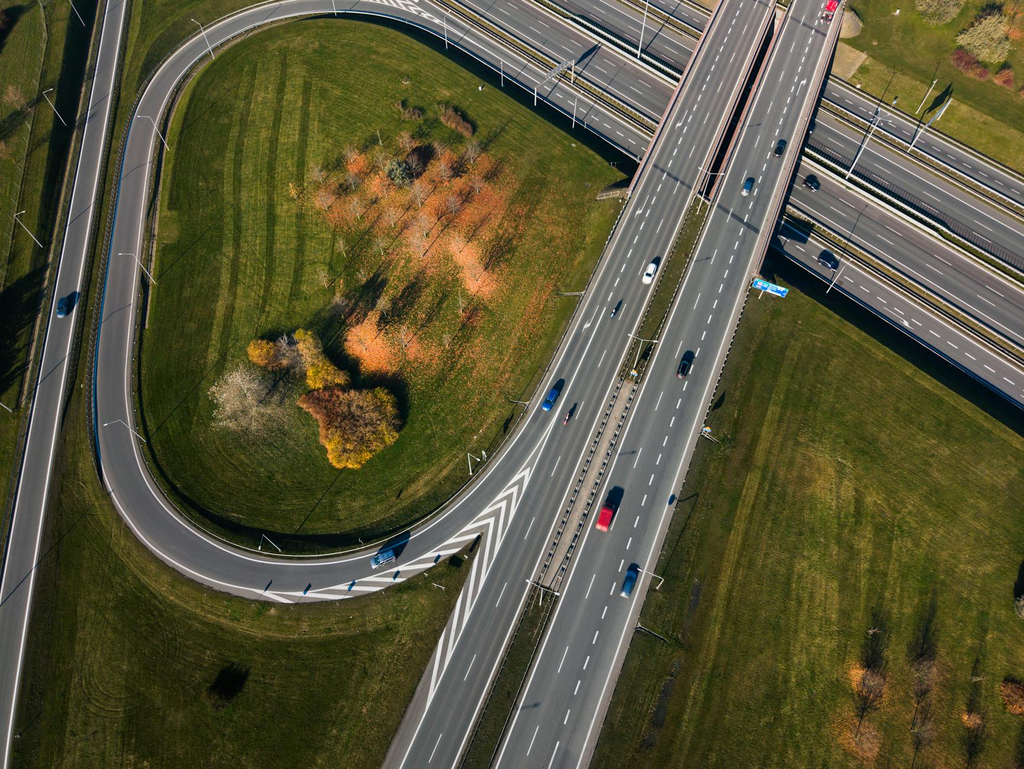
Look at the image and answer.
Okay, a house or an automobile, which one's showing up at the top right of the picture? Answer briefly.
automobile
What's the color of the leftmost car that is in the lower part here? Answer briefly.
blue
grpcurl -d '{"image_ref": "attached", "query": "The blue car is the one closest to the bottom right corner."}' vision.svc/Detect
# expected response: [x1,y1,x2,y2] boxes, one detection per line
[620,566,639,596]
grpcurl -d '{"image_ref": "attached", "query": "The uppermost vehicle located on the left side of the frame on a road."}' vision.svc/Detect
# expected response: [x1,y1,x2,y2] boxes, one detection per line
[55,298,68,316]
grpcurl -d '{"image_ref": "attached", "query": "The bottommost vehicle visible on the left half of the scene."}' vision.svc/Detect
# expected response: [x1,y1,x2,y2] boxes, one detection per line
[369,548,399,569]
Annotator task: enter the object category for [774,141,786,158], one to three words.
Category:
vehicle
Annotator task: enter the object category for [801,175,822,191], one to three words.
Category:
car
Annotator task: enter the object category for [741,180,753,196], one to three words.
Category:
vehicle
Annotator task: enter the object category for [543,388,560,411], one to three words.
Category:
car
